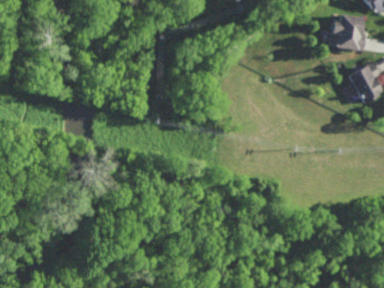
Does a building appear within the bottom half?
No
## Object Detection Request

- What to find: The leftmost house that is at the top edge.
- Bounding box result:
[334,13,368,52]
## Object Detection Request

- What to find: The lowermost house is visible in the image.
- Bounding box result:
[350,68,384,106]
